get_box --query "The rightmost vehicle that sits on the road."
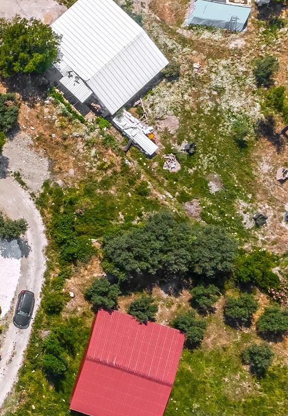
[11,290,34,328]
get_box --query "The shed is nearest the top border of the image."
[186,0,251,31]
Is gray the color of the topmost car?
Yes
